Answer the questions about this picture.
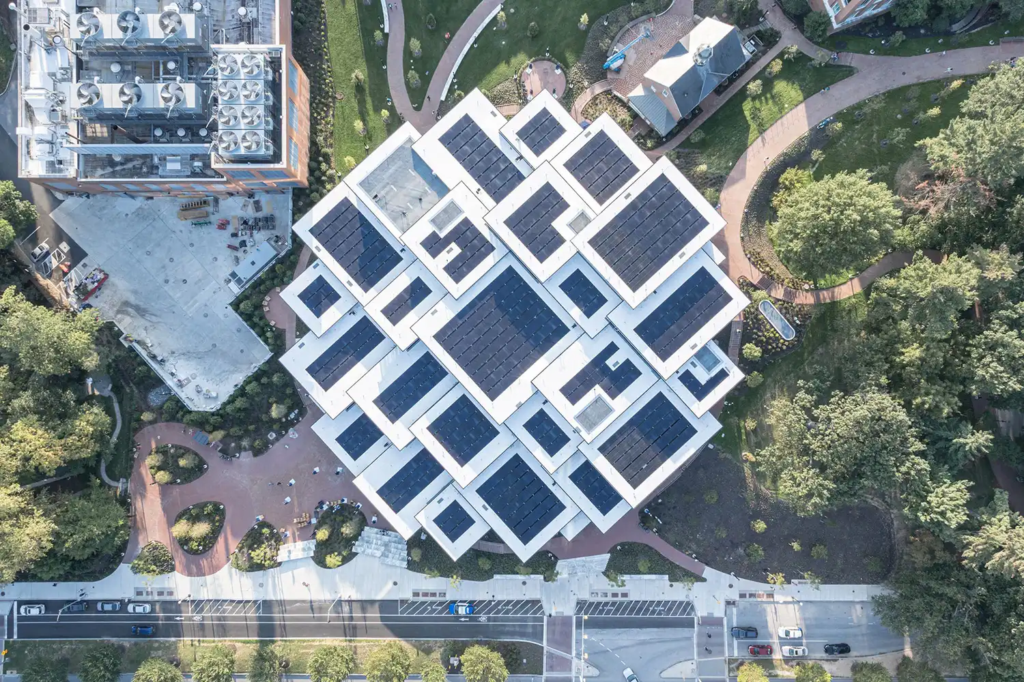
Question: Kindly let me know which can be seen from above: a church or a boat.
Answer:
church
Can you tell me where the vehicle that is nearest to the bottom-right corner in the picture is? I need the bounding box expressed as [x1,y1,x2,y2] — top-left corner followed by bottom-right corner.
[823,642,850,654]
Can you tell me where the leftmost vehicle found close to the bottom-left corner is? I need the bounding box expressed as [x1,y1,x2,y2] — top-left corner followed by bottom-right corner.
[21,603,47,616]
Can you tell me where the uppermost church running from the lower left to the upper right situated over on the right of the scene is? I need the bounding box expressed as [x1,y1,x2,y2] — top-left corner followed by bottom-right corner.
[627,16,747,137]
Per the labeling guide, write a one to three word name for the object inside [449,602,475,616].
car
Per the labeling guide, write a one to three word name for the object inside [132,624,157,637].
vehicle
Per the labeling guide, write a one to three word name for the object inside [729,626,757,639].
vehicle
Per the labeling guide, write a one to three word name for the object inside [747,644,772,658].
car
